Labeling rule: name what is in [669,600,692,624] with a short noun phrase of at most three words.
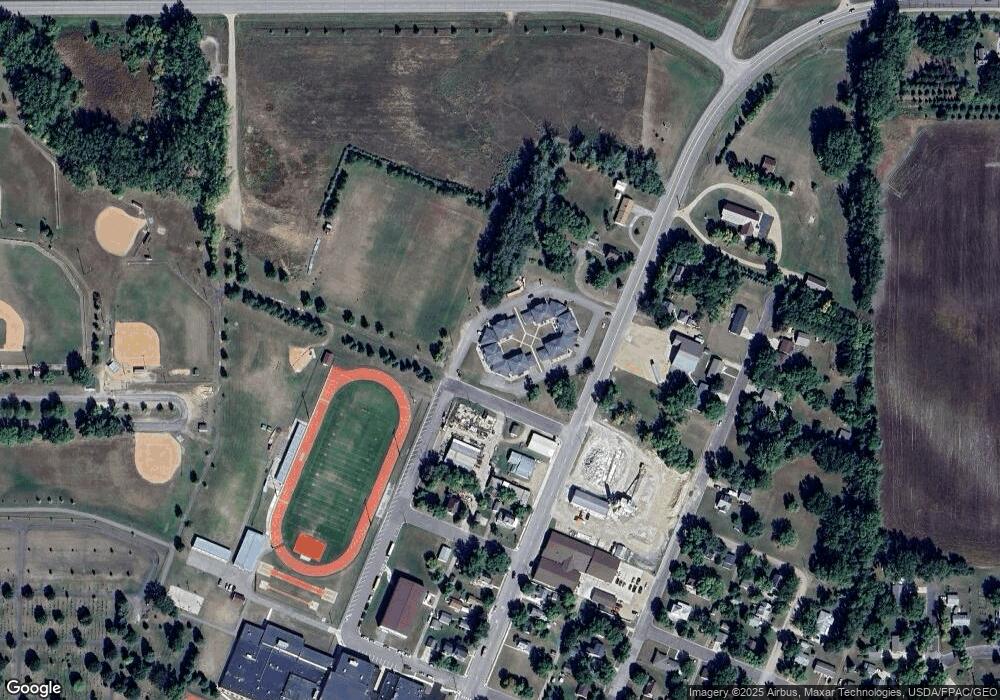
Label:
house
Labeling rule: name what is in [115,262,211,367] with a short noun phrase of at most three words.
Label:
baseball field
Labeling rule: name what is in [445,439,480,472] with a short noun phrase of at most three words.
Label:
building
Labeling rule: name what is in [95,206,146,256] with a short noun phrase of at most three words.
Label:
baseball field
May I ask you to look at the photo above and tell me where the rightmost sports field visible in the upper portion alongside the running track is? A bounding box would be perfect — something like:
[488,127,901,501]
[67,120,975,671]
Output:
[322,157,482,331]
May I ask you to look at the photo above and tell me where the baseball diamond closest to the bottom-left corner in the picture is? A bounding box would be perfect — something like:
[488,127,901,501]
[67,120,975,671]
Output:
[136,432,181,483]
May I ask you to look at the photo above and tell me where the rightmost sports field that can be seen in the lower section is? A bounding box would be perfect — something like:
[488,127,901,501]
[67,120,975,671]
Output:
[285,383,396,564]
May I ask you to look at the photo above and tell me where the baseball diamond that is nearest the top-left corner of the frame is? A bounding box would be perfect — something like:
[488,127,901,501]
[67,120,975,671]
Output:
[0,124,56,234]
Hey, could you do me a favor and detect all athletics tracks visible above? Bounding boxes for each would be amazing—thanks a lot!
[272,370,410,577]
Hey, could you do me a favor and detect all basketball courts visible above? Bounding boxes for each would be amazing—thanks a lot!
[169,585,204,615]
